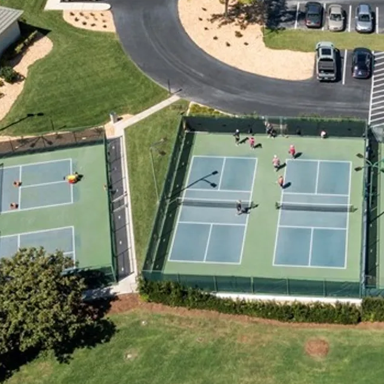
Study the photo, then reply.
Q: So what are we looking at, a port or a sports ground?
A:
sports ground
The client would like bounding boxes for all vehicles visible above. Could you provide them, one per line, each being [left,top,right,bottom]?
[355,0,375,29]
[316,42,338,79]
[352,47,373,77]
[327,1,347,29]
[305,0,323,27]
